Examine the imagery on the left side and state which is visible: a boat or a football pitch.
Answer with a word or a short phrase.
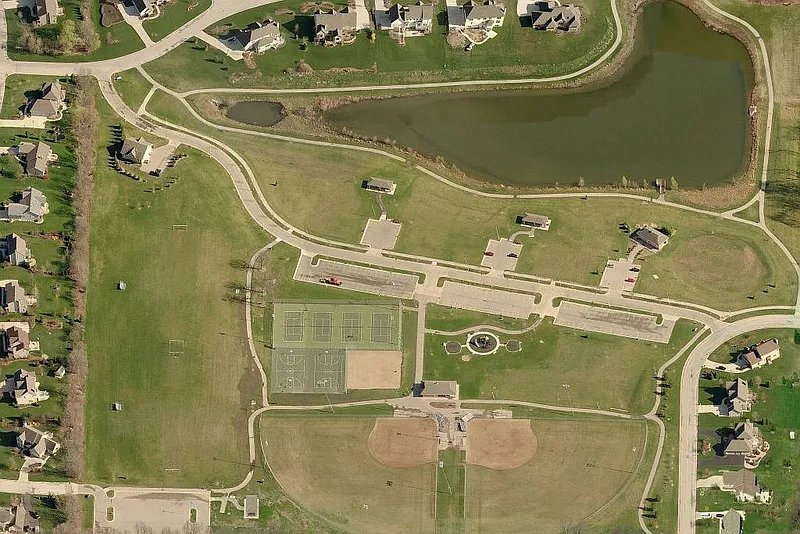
football pitch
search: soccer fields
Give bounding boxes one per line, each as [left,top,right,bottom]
[133,229,227,340]
[133,353,227,469]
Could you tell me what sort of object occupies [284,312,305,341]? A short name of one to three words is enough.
tennis court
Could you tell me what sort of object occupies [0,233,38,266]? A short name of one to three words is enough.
house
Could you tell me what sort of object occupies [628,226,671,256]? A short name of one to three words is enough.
building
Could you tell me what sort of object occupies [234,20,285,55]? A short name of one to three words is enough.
house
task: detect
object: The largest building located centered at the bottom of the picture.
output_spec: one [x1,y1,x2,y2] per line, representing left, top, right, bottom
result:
[423,379,460,401]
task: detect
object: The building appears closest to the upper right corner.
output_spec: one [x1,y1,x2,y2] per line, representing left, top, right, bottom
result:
[533,7,580,37]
